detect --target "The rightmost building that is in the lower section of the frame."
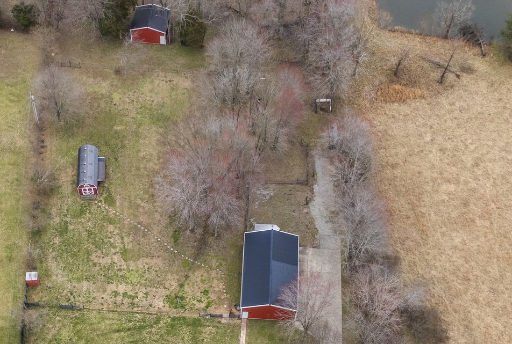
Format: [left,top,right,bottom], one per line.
[240,226,302,320]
